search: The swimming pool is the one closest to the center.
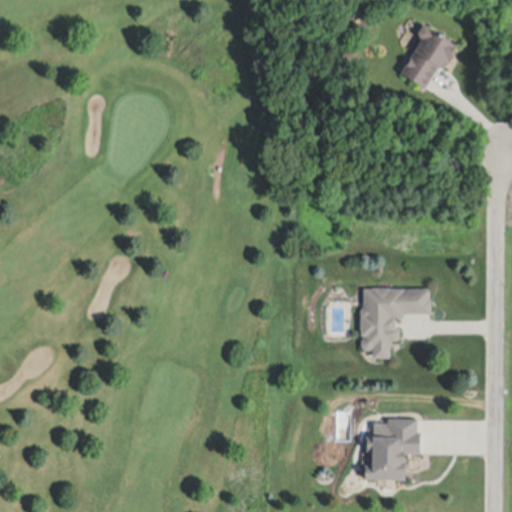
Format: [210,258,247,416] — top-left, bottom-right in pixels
[327,301,352,338]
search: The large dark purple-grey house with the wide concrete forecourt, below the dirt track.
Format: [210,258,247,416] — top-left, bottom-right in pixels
[366,420,422,482]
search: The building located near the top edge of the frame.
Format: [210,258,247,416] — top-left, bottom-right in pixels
[402,22,456,88]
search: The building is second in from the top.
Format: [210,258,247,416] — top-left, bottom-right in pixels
[360,288,432,360]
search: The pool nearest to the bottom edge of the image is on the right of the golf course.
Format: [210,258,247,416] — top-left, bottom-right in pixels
[336,408,352,442]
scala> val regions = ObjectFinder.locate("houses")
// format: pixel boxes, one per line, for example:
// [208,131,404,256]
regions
[402,22,456,88]
[360,288,432,360]
[366,420,422,482]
